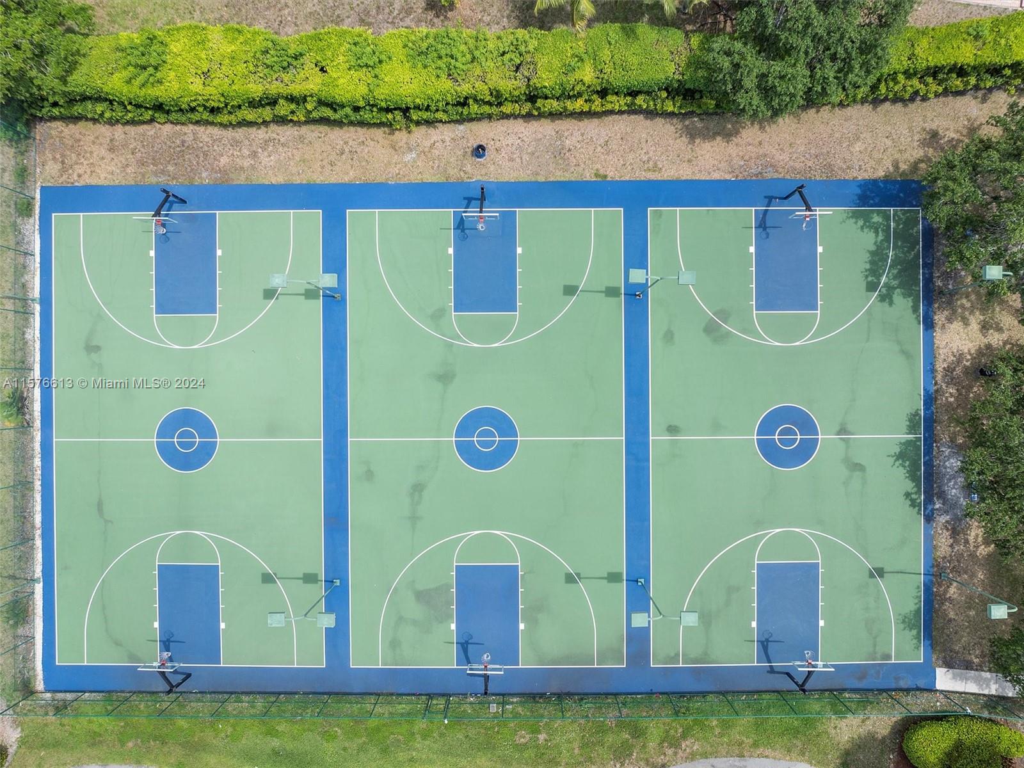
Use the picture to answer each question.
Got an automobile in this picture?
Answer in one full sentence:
No, there isn't any automobile down there.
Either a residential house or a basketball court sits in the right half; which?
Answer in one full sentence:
The feature located in the right half is a basketball court.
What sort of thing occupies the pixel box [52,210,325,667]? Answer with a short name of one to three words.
basketball court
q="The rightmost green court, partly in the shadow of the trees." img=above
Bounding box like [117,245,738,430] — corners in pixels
[648,208,923,667]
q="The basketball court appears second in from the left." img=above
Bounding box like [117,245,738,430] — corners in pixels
[346,208,626,668]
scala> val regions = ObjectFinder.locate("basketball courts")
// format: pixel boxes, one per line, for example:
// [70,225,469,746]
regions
[346,208,626,668]
[648,208,923,667]
[52,210,325,667]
